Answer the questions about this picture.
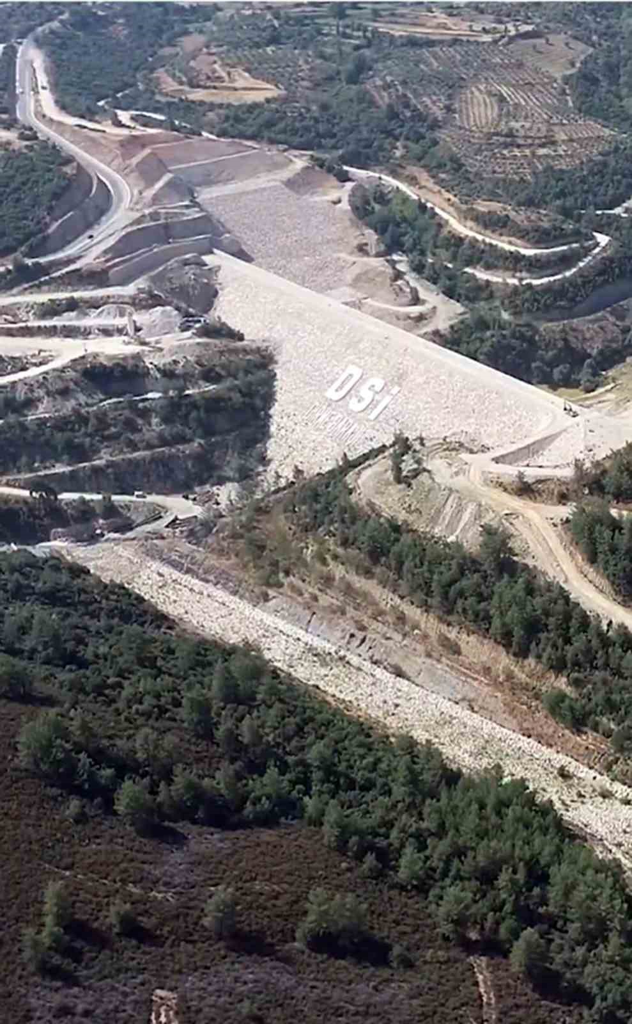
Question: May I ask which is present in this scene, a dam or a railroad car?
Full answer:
Visible in the photo is a dam.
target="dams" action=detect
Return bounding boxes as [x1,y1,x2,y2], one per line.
[209,252,585,486]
